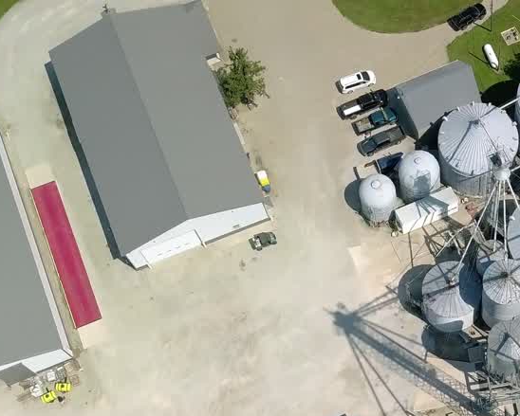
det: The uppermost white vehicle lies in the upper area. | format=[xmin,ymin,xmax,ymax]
[334,66,380,95]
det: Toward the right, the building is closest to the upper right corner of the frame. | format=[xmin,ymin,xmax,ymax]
[393,59,483,146]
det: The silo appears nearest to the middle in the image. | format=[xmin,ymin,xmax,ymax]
[360,175,398,225]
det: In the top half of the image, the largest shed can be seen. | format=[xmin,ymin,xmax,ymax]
[51,1,269,269]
